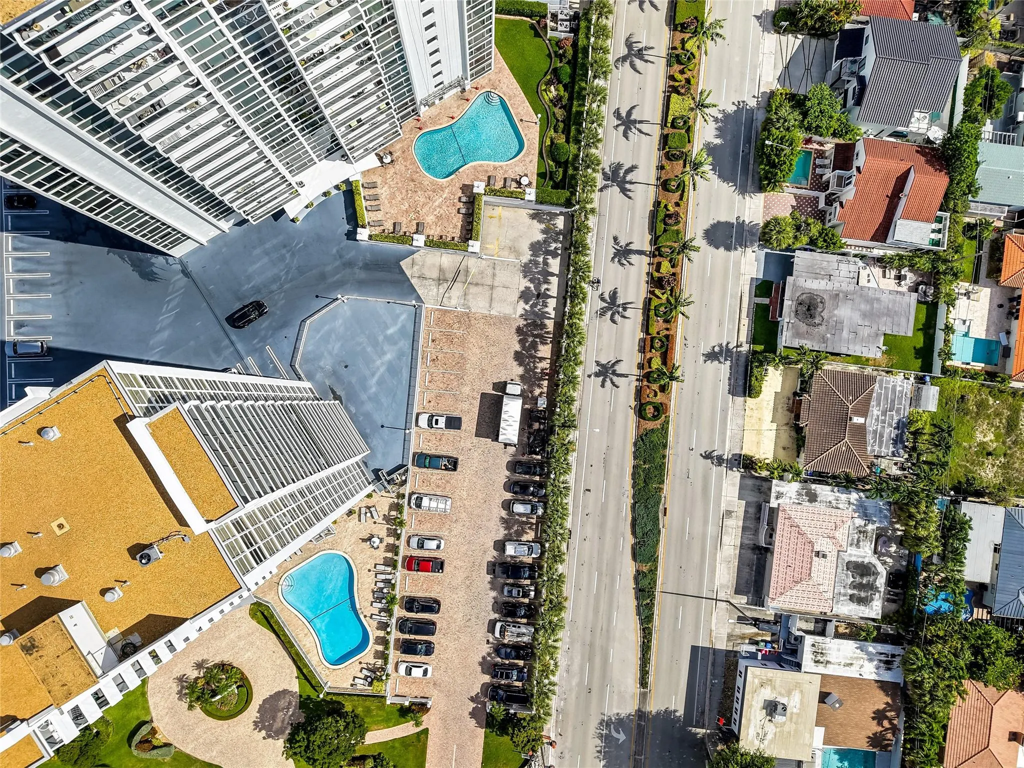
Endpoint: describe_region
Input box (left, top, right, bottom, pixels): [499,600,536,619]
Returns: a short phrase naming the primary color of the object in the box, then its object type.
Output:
black car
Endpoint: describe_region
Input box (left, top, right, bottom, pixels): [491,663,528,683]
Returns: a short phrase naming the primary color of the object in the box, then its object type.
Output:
black car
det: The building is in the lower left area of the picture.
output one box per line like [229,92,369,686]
[0,355,375,768]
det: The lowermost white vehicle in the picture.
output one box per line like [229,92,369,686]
[397,659,434,678]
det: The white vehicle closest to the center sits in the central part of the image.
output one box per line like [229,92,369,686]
[499,380,524,445]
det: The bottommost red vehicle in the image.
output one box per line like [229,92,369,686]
[406,555,444,573]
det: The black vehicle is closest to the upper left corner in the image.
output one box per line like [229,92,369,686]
[2,193,42,211]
